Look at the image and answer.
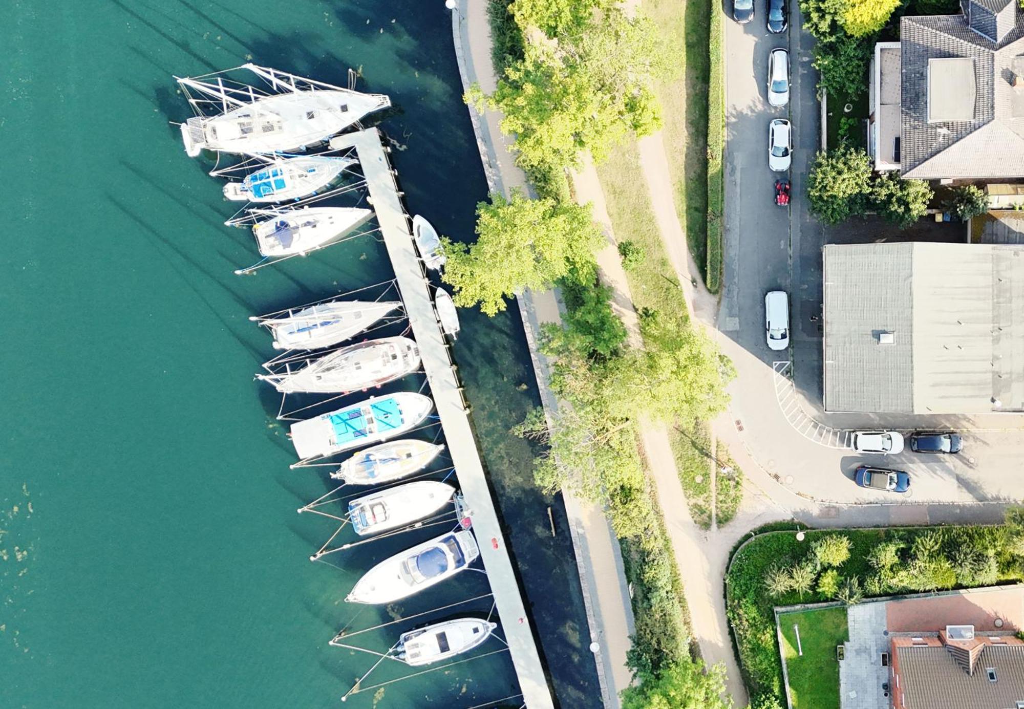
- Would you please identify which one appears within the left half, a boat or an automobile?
boat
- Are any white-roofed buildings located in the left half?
No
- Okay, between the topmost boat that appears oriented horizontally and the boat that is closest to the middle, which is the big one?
the topmost boat that appears oriented horizontally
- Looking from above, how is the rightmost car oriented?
from left to right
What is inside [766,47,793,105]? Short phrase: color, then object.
white car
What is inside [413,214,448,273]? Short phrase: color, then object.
white boat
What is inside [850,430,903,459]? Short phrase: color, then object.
white car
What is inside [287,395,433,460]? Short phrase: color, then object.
white boat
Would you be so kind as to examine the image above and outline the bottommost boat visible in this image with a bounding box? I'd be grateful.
[391,617,497,666]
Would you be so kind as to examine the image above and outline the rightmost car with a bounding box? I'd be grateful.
[910,432,963,458]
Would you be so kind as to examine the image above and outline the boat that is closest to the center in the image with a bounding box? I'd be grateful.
[435,288,461,340]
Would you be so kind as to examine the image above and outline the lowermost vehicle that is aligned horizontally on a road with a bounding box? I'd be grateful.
[854,466,910,495]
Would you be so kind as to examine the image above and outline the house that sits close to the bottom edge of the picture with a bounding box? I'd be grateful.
[891,625,1024,709]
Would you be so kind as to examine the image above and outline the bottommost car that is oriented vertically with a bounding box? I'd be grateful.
[764,292,792,350]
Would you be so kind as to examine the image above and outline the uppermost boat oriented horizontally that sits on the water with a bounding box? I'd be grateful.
[171,63,391,155]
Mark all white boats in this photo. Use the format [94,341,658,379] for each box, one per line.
[171,63,391,155]
[413,214,448,273]
[435,288,461,340]
[287,395,433,460]
[258,338,425,395]
[391,617,497,666]
[345,482,453,535]
[247,204,373,257]
[221,182,247,199]
[339,531,478,610]
[178,123,199,155]
[330,440,443,484]
[224,149,356,205]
